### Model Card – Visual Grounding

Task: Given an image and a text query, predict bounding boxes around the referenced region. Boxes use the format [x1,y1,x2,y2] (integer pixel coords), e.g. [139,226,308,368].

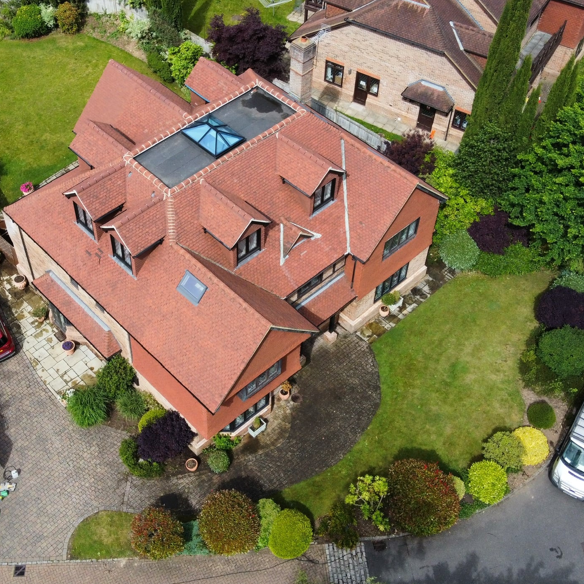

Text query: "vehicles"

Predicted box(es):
[0,309,18,367]
[545,401,584,514]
